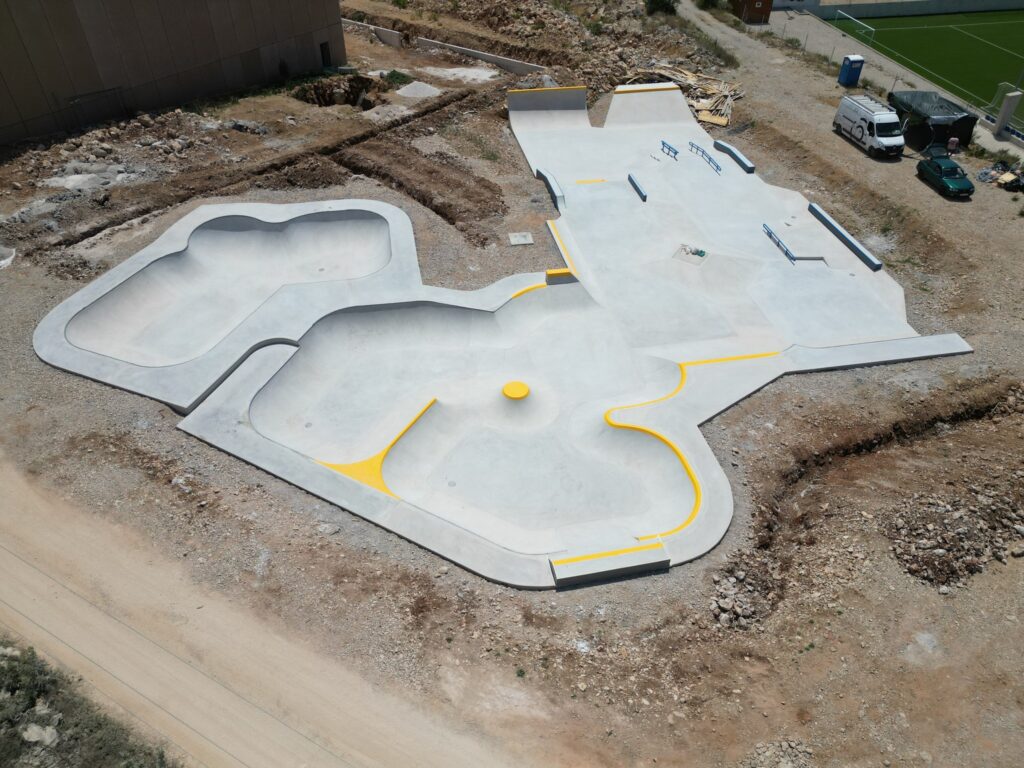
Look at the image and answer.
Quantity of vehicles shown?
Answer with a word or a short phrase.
2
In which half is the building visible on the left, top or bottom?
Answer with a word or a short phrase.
top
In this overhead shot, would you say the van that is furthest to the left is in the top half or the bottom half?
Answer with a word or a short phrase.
top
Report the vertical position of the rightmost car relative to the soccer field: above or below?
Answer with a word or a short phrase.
below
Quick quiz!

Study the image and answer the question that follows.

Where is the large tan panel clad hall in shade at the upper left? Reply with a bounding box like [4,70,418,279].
[0,0,345,155]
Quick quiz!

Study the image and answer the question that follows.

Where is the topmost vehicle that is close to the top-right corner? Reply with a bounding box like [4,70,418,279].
[831,91,909,157]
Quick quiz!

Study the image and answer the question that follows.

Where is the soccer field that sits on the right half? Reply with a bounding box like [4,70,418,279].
[823,10,1024,134]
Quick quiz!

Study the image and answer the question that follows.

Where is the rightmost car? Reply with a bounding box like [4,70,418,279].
[915,145,978,195]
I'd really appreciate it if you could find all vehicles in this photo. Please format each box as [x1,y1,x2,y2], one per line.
[831,91,909,157]
[915,145,978,195]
